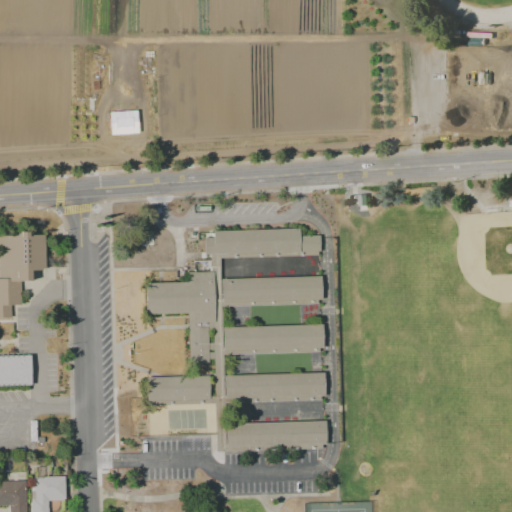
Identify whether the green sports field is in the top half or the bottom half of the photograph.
bottom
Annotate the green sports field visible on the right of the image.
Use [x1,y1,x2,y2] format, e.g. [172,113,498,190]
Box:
[334,204,512,512]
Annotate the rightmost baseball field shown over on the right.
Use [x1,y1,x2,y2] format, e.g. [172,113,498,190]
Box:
[458,212,512,302]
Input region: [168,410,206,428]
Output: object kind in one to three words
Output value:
sports court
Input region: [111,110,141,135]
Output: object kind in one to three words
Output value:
barn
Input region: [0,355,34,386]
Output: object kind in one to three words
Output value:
building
